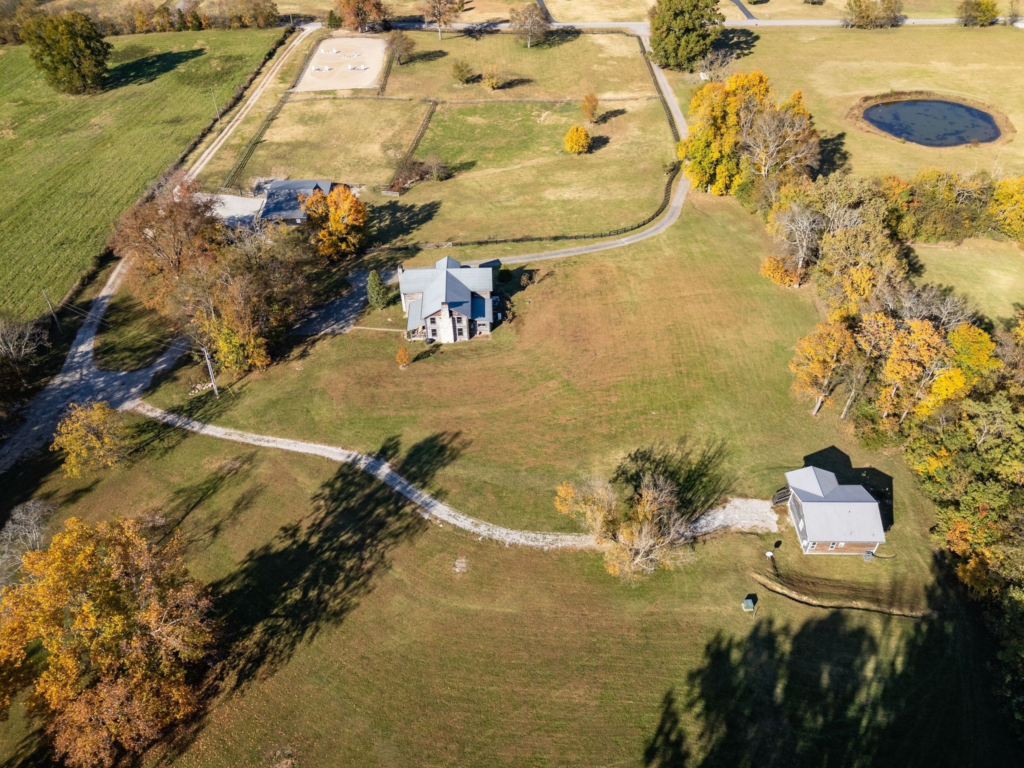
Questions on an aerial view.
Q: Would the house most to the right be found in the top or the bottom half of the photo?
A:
bottom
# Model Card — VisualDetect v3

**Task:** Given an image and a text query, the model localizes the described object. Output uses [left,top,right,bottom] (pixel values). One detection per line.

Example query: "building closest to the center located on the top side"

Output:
[400,257,493,343]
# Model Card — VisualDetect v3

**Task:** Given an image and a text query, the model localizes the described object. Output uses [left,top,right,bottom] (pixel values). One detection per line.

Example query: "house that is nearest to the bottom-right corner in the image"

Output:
[757,462,887,557]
